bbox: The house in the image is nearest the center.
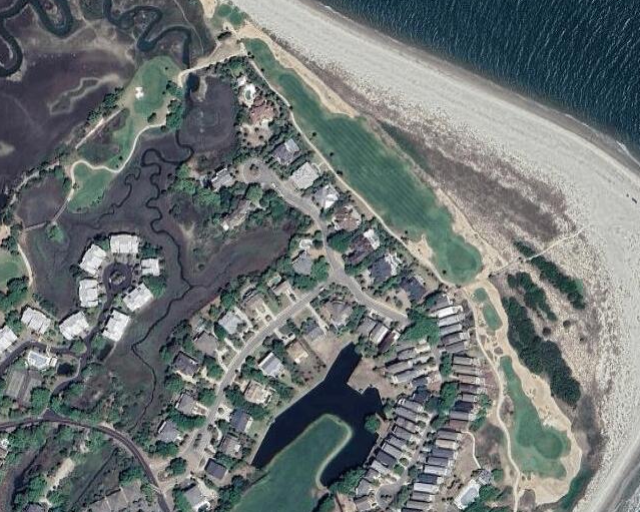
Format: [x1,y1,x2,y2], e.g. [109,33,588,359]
[294,251,315,275]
